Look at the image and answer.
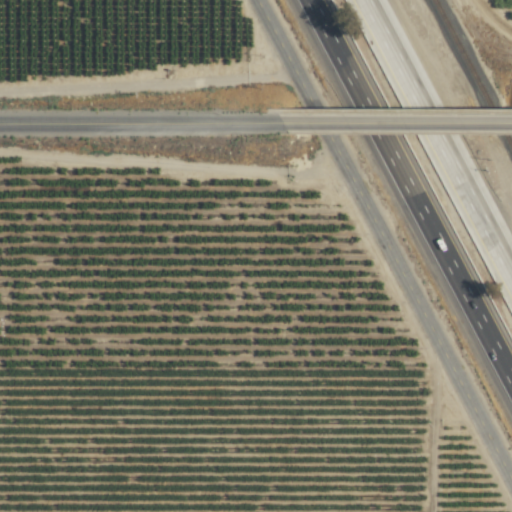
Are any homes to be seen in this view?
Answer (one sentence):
No, I find no home anywhere in the image.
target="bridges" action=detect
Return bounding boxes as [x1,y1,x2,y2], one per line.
[266,108,512,134]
